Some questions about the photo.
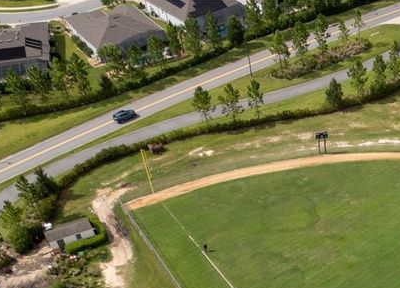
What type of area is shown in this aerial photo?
sports ground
